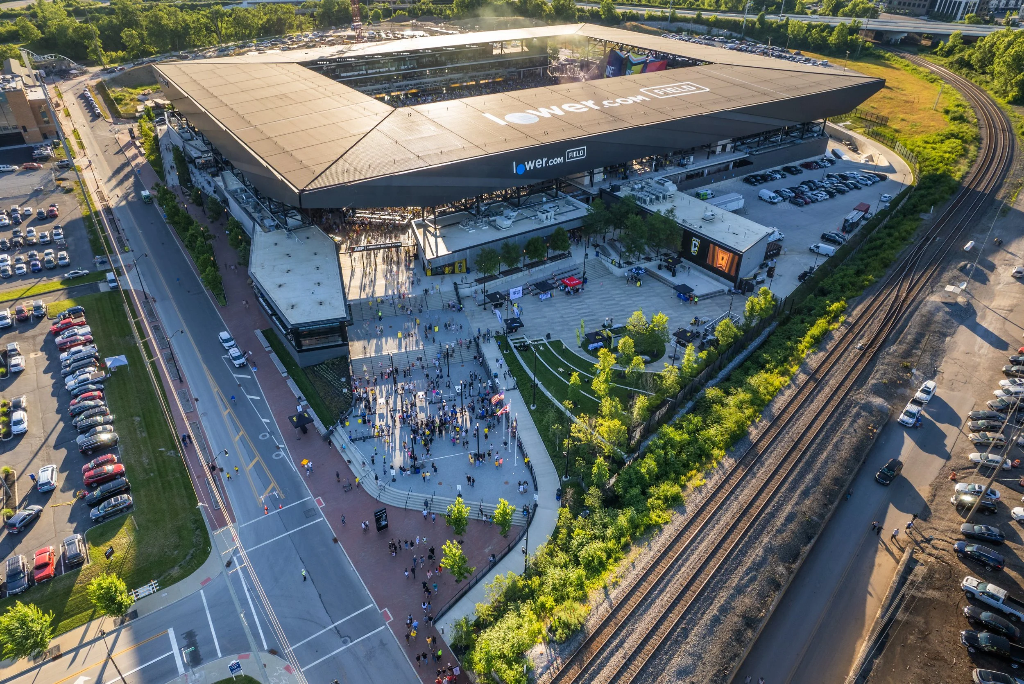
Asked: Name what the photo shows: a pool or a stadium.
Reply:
stadium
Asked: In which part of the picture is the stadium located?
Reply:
top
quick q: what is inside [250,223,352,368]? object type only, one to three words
building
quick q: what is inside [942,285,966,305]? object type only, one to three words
shed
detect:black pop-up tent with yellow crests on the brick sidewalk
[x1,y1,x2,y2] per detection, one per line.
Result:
[285,413,315,444]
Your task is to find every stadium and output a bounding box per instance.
[150,23,886,229]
